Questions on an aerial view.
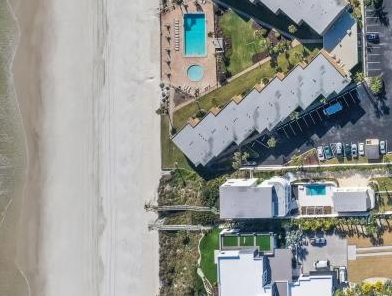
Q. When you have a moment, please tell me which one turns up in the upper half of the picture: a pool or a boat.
pool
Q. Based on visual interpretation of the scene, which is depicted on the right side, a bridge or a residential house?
residential house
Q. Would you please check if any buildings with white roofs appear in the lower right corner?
Yes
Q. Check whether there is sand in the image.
Yes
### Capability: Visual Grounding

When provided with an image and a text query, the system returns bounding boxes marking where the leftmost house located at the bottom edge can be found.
[218,227,294,296]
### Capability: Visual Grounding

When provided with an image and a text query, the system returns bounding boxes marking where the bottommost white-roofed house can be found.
[292,268,336,296]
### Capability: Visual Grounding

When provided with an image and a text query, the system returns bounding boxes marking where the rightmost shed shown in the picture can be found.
[365,137,381,159]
